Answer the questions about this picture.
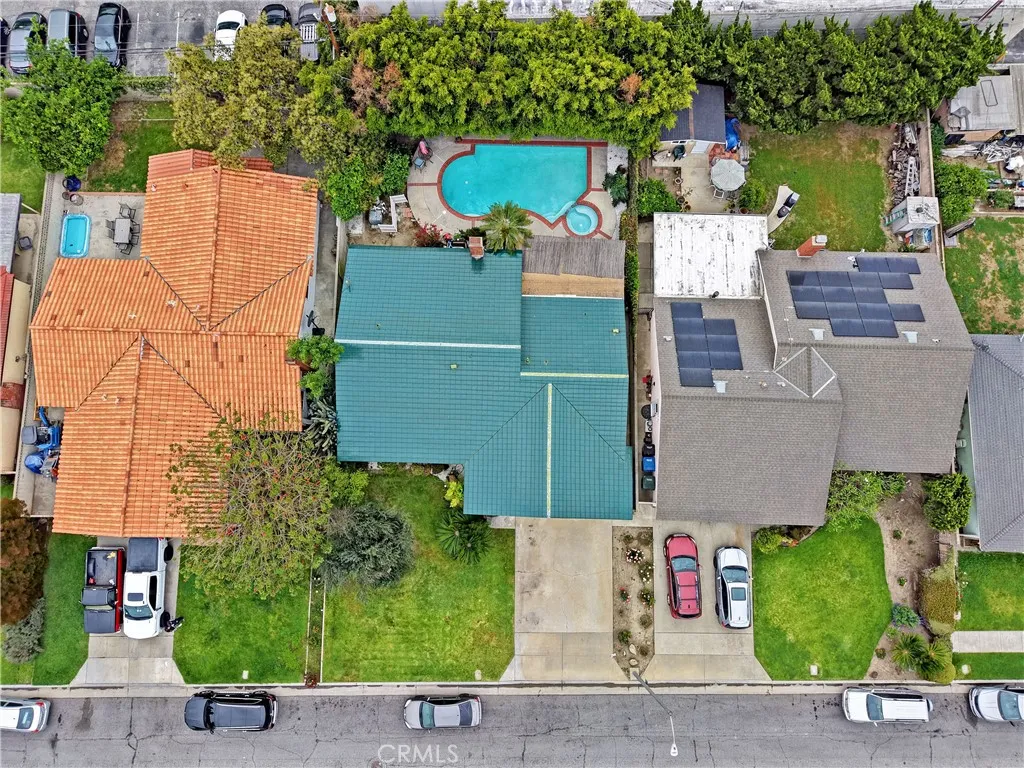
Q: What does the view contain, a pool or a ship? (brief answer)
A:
pool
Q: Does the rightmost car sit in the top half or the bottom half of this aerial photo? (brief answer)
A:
bottom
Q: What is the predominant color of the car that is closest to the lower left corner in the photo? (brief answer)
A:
white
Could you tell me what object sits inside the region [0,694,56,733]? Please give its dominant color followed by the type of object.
white car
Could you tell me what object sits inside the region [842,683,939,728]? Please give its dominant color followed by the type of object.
white car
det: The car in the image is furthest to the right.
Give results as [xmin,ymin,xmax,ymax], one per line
[963,683,1024,727]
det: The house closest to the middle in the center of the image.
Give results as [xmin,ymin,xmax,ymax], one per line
[334,236,633,520]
